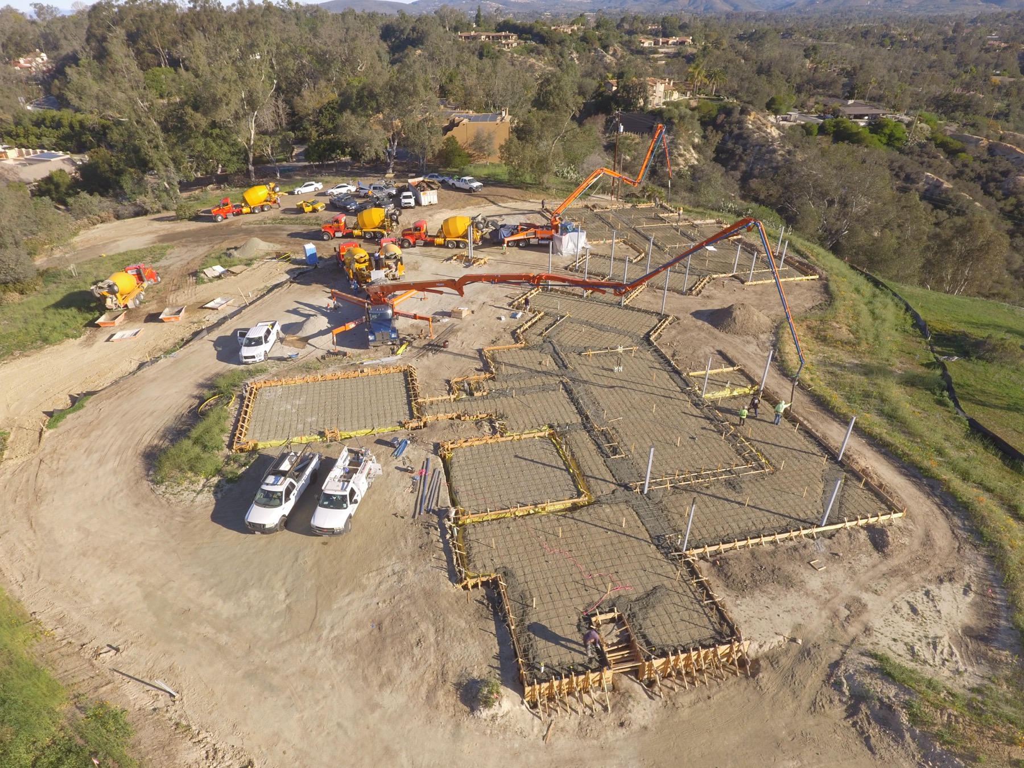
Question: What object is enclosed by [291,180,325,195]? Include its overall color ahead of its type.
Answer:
white car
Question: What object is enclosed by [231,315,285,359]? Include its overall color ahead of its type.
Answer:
white truck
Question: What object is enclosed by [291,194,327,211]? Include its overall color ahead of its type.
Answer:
yellow vehicle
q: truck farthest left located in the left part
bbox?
[88,253,164,307]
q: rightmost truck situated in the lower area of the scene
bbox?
[312,432,399,533]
